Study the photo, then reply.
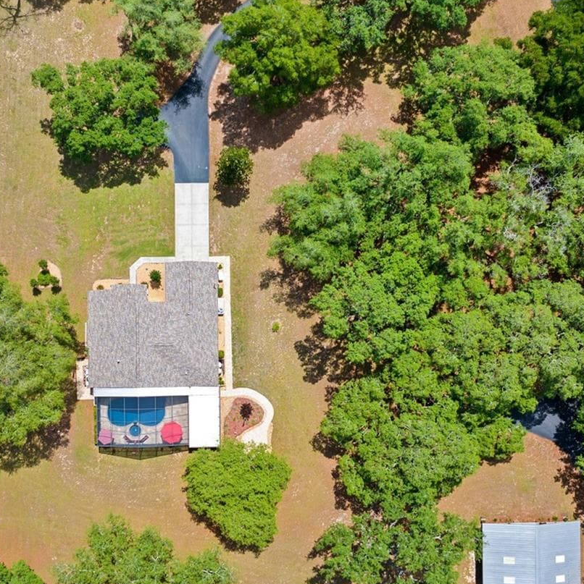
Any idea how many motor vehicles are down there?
zero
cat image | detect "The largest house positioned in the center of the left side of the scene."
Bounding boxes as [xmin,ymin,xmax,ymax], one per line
[85,260,218,388]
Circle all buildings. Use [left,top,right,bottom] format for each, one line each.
[476,522,582,584]
[85,260,218,388]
